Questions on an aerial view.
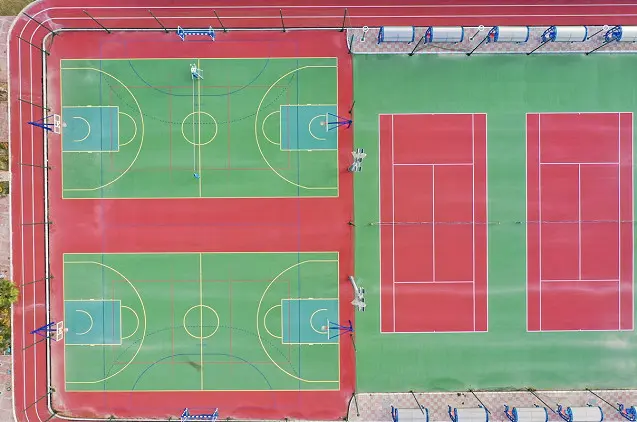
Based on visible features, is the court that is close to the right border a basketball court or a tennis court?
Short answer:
tennis court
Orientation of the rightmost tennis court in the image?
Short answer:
up and down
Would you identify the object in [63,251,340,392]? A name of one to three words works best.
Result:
basketball court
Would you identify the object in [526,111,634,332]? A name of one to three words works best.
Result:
tennis court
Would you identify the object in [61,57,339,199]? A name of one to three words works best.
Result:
basketball court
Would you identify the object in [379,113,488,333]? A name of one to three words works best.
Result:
tennis court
